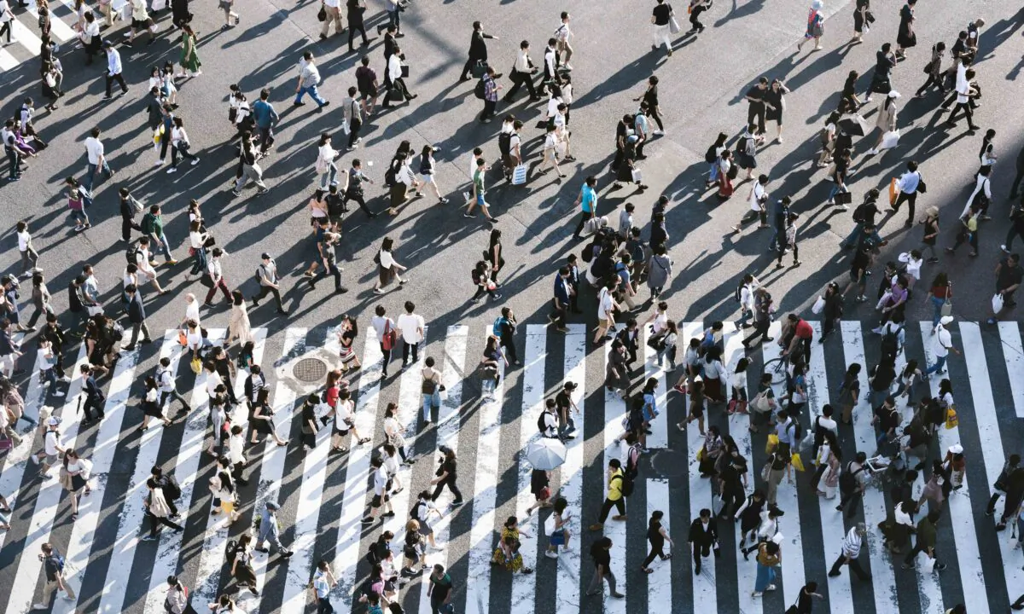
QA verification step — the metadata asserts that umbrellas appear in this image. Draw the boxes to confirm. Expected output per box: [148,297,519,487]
[842,114,873,147]
[527,442,568,484]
